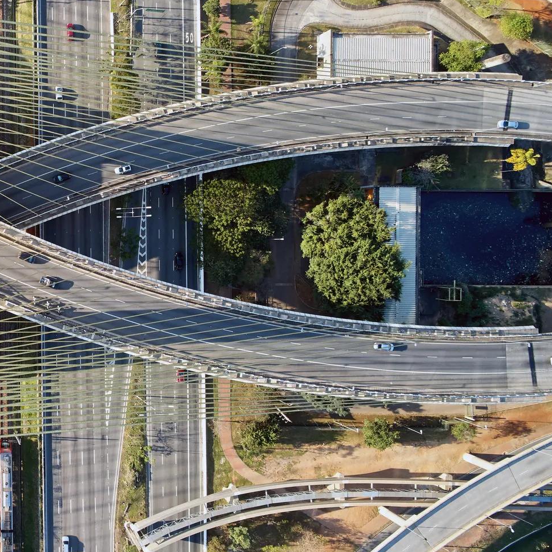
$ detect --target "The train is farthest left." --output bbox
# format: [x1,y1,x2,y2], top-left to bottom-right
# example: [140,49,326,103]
[0,438,12,552]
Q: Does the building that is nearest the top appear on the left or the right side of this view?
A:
right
